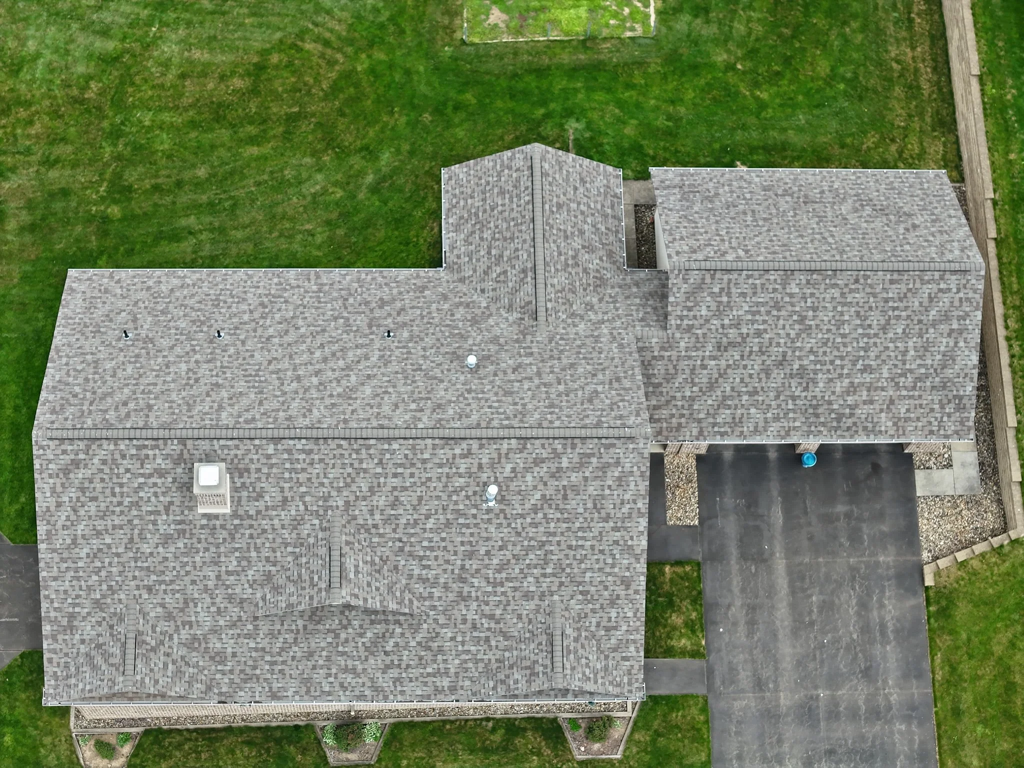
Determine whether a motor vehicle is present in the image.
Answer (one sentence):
No, the frame has no motor vehicle in it.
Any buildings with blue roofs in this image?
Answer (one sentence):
No, no building with a blue roof is visible in the scene.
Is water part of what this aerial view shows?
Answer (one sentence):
No, there's no water in this view.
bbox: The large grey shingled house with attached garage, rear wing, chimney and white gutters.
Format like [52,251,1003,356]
[35,143,983,720]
